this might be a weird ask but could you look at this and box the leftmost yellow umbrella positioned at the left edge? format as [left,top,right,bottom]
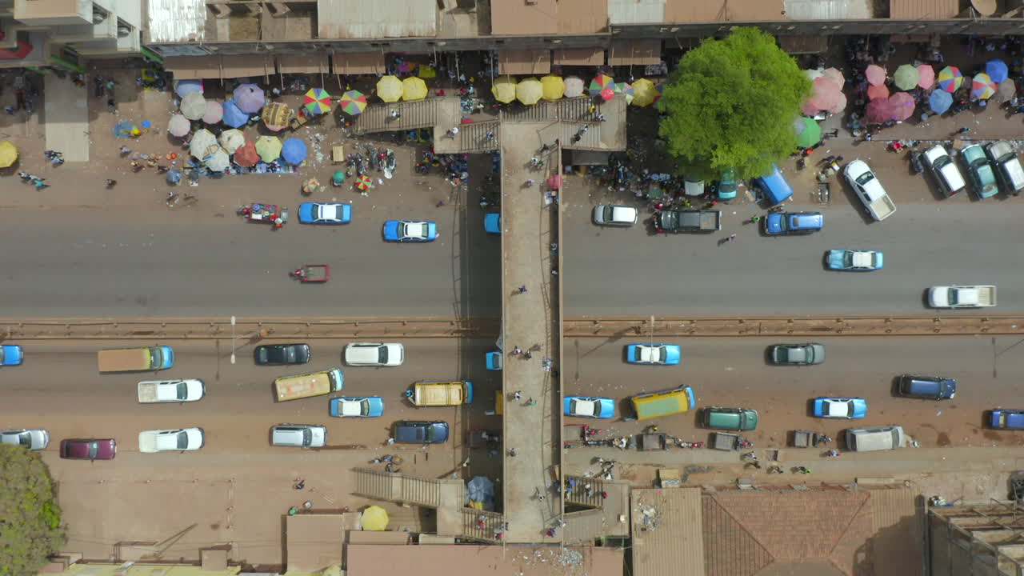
[0,141,30,167]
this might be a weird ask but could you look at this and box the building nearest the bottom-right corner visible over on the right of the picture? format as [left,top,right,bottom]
[929,501,1024,576]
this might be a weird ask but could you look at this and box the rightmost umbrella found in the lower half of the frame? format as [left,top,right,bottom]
[466,475,494,503]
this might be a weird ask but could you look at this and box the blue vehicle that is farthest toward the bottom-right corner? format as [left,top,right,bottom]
[985,407,1024,429]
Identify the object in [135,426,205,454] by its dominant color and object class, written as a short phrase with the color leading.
white truck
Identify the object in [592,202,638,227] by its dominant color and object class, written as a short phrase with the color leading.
white car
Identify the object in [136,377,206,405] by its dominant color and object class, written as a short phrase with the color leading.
white truck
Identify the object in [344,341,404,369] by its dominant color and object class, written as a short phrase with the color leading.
white car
